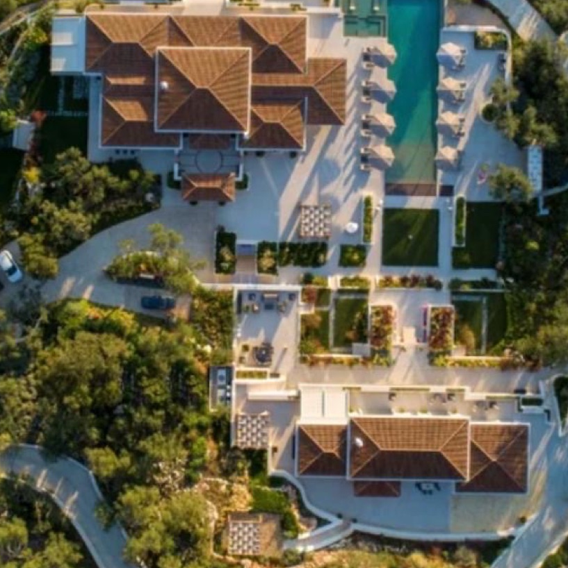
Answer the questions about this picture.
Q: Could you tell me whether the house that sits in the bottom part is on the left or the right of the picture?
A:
right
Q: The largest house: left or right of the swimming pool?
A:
to the left of it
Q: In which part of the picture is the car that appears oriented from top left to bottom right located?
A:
left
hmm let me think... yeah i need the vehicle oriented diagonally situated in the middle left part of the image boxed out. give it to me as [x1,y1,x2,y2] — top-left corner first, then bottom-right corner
[0,249,23,281]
